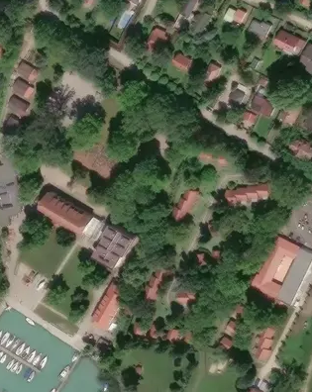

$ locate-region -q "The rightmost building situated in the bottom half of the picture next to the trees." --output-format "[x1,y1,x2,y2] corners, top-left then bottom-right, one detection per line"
[277,247,312,306]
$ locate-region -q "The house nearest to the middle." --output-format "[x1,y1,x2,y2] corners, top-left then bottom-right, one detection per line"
[174,188,201,220]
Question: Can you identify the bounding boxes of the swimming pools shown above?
[118,10,135,29]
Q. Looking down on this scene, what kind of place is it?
residential area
